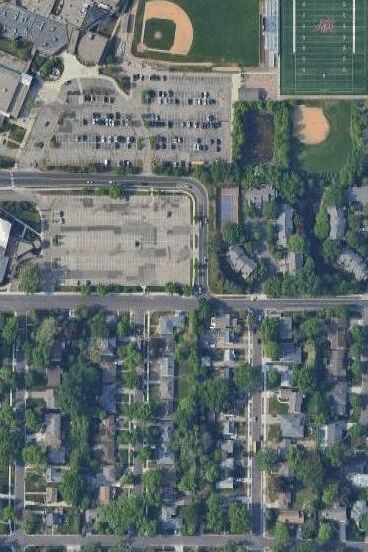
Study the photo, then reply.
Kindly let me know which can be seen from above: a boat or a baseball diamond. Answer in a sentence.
I can see a baseball diamond in this picture.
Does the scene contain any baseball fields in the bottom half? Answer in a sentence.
No, the scene shows no baseball field in the bottom half.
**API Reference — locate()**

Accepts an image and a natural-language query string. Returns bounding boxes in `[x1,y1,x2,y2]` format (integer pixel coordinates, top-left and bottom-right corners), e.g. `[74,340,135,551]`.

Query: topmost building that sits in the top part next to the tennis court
[245,184,275,201]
